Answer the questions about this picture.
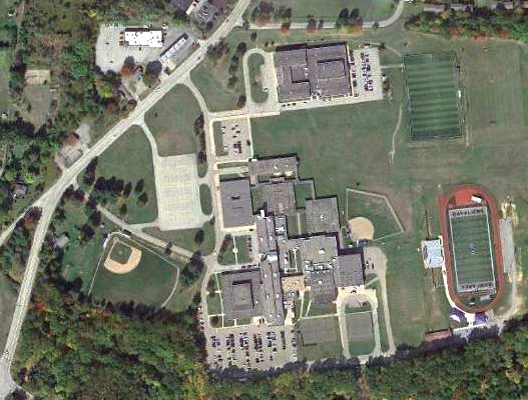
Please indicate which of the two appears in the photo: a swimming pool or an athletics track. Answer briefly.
athletics track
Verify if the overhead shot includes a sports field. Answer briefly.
Yes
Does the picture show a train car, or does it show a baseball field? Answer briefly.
baseball field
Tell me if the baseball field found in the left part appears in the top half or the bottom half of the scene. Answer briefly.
bottom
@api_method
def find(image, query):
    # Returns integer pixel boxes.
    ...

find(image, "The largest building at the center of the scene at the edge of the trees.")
[220,157,363,325]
